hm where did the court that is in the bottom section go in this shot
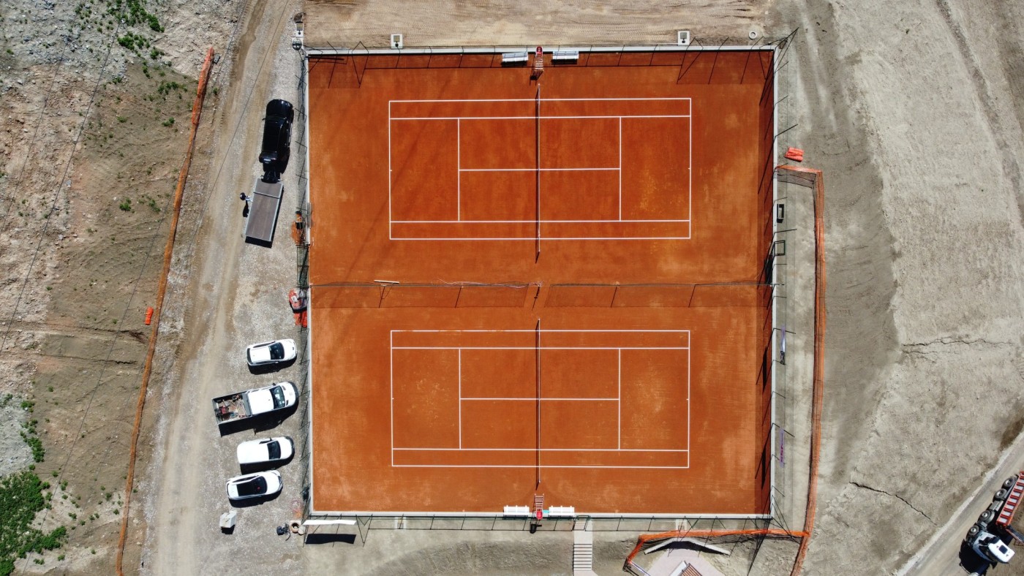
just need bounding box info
[313,284,771,514]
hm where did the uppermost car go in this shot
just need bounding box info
[258,100,294,164]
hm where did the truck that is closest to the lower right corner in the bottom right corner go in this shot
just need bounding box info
[964,475,1024,568]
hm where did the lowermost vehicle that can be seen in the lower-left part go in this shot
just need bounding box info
[227,469,284,500]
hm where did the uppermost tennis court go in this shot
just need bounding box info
[310,50,774,285]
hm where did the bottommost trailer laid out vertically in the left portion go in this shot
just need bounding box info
[246,169,282,241]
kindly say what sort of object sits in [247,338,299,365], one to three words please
car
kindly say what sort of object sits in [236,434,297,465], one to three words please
van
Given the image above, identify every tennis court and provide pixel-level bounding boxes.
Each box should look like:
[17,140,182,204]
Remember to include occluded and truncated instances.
[310,50,774,285]
[313,284,771,514]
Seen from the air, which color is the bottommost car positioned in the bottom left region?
white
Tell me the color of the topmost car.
black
